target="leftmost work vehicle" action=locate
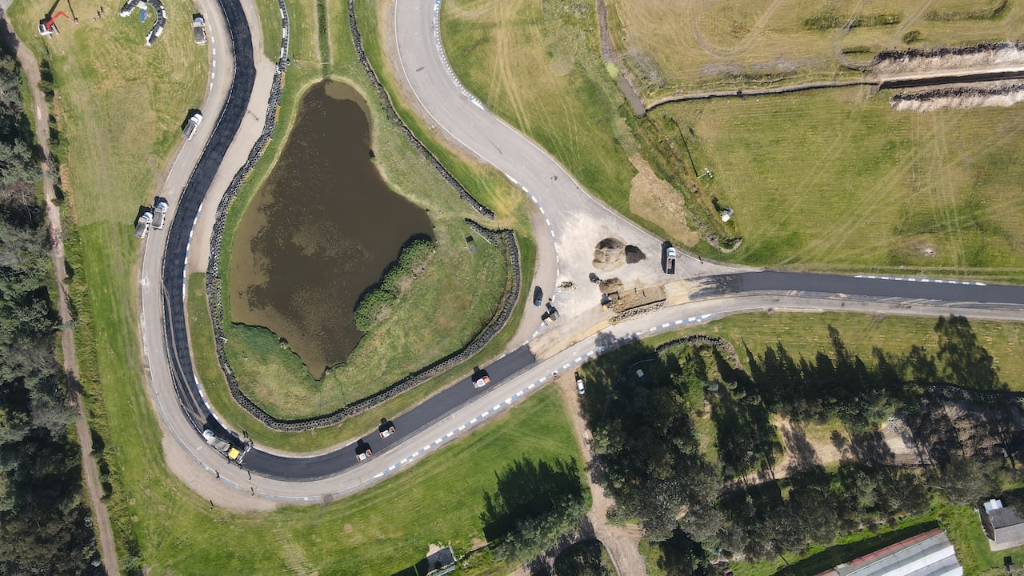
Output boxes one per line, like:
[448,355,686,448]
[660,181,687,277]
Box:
[38,16,76,40]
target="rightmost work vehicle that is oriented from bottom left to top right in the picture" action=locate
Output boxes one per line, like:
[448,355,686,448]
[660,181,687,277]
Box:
[544,308,562,327]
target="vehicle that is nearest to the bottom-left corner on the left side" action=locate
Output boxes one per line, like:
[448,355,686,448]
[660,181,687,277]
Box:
[199,429,228,455]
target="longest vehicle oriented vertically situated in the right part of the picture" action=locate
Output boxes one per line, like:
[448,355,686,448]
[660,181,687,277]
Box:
[664,244,676,273]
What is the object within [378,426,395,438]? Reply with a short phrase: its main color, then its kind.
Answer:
white vehicle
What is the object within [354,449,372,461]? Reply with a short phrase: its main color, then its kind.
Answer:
white vehicle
